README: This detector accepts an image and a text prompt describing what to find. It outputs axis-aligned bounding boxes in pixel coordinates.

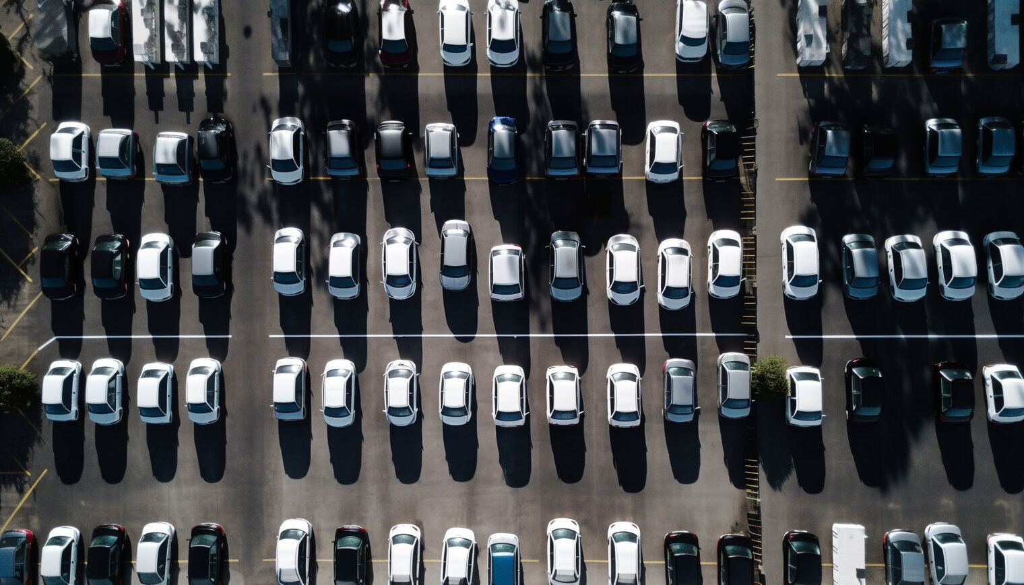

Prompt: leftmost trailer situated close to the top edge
[38,0,84,62]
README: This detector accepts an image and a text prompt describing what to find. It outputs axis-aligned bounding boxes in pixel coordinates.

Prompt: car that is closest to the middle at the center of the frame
[488,243,527,302]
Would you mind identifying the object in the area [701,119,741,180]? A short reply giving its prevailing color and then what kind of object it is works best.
black car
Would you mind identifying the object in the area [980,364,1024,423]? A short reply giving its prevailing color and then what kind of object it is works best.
white car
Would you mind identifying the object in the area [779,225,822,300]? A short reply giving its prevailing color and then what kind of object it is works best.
white car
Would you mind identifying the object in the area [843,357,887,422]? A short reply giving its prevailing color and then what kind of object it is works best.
black car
